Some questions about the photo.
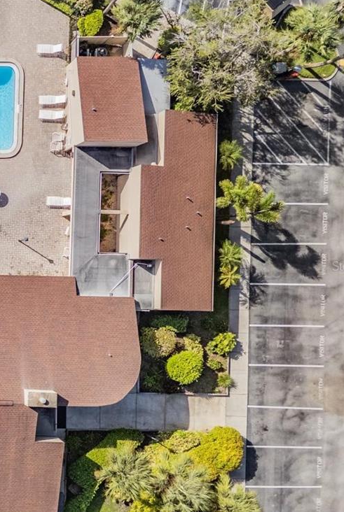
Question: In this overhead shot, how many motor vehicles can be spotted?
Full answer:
The count of motor vehicles is 0.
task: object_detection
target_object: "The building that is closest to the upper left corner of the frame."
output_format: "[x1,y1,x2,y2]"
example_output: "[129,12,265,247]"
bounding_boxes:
[64,57,148,151]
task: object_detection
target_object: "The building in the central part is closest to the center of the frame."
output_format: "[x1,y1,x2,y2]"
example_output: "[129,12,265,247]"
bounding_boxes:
[114,109,219,312]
